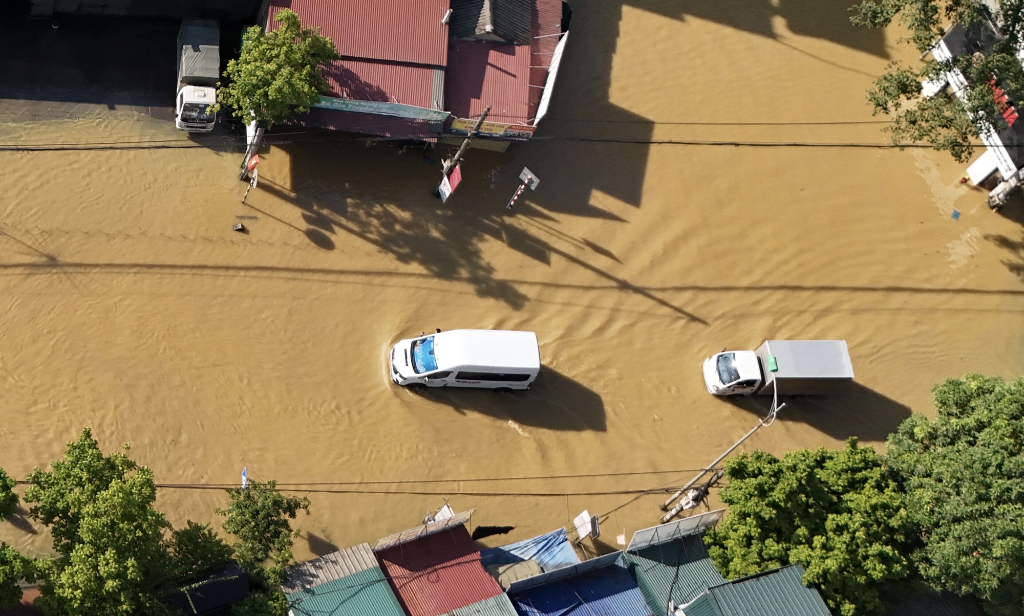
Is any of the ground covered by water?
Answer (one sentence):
Yes, there is water in the image.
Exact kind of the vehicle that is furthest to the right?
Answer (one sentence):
I'd identify the vehicle that is furthest to the right as a truck.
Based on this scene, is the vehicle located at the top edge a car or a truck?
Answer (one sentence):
The vehicle located at the top edge can be classified as a truck.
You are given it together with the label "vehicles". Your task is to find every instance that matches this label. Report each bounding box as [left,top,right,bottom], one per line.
[704,339,859,401]
[173,16,226,135]
[388,329,543,395]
